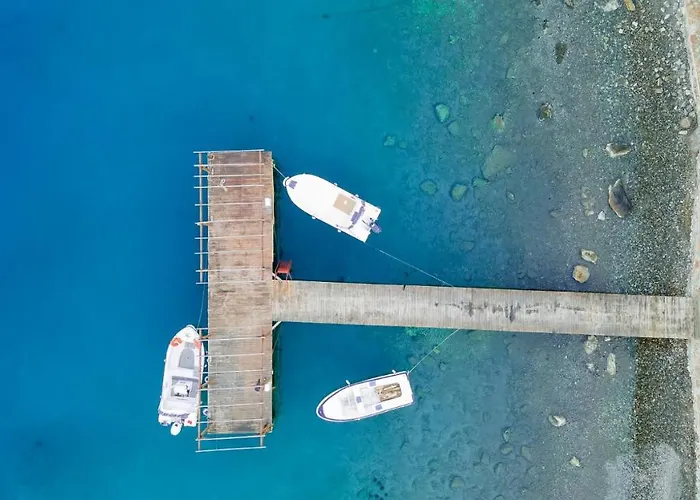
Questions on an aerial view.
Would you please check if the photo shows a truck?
No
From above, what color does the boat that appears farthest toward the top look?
white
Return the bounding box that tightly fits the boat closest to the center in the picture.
[282,175,383,242]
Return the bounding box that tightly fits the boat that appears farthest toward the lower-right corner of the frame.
[316,369,414,421]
